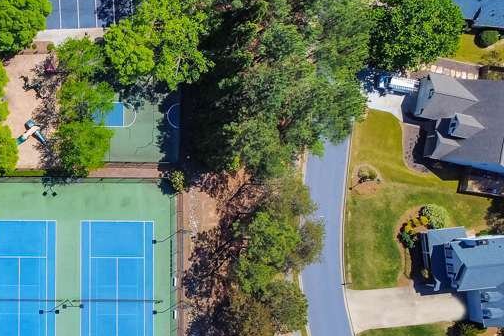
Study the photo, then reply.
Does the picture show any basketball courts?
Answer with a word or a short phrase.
Yes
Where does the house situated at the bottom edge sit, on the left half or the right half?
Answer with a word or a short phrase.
right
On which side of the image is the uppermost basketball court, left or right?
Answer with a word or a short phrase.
left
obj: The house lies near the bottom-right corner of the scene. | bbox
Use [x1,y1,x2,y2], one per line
[418,227,504,332]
